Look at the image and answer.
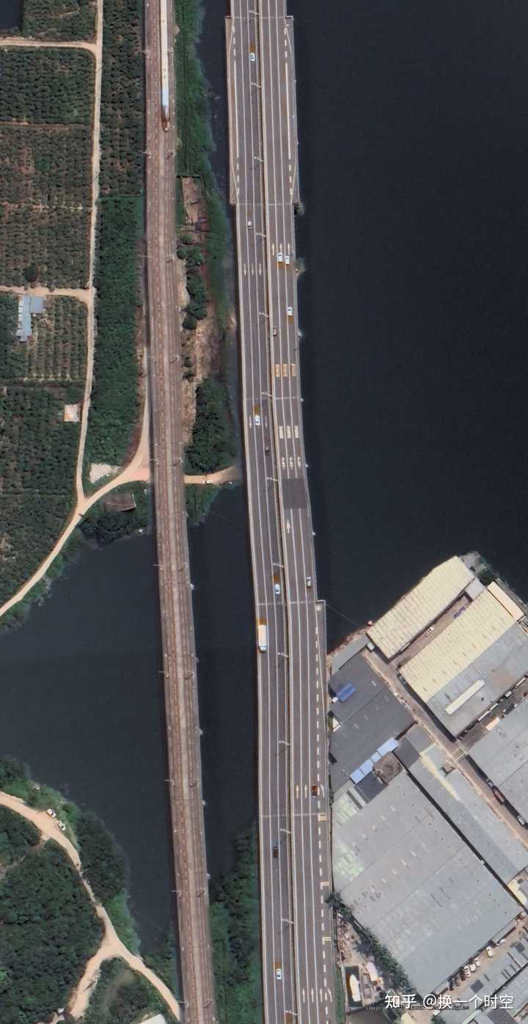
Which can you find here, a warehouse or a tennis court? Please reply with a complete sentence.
There is a warehouse in the scene.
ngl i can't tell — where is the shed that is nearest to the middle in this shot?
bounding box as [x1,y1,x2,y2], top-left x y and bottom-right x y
[104,492,137,511]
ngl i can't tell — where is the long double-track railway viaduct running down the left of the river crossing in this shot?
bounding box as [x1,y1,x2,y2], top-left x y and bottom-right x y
[145,0,216,1024]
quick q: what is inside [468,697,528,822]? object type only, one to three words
building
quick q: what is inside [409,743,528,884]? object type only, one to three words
warehouse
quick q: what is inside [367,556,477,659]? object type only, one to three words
building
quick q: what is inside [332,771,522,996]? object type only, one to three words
warehouse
